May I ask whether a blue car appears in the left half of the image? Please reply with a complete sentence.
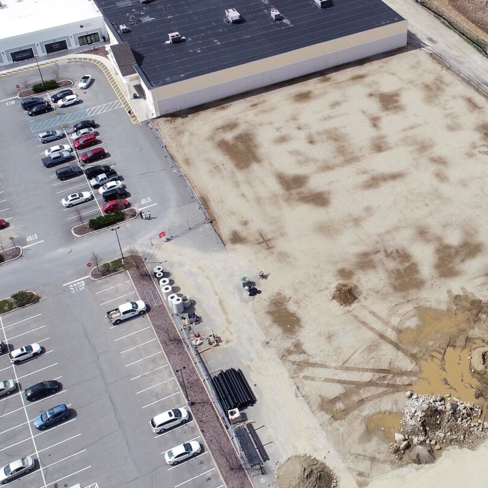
Yes, a blue car appears in the left half of the image.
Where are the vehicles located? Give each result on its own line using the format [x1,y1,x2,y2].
[101,187,131,203]
[84,165,112,180]
[44,144,71,155]
[57,94,82,108]
[162,441,203,468]
[106,302,148,326]
[81,148,107,163]
[102,200,131,213]
[0,336,7,354]
[78,76,92,90]
[28,104,54,117]
[89,171,121,190]
[33,404,71,431]
[53,166,84,183]
[37,131,64,144]
[37,150,73,167]
[74,134,99,150]
[7,343,44,365]
[149,409,190,436]
[61,193,92,208]
[0,457,36,485]
[71,119,98,133]
[26,381,61,404]
[0,379,17,397]
[50,90,74,103]
[19,96,48,111]
[96,180,125,195]
[71,127,96,141]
